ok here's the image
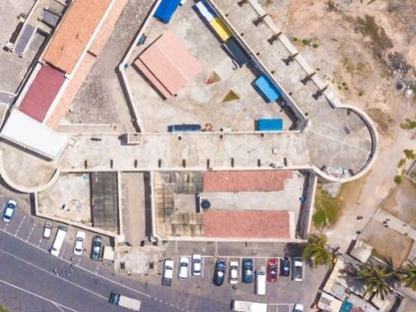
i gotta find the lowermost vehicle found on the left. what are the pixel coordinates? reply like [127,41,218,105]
[108,288,143,311]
